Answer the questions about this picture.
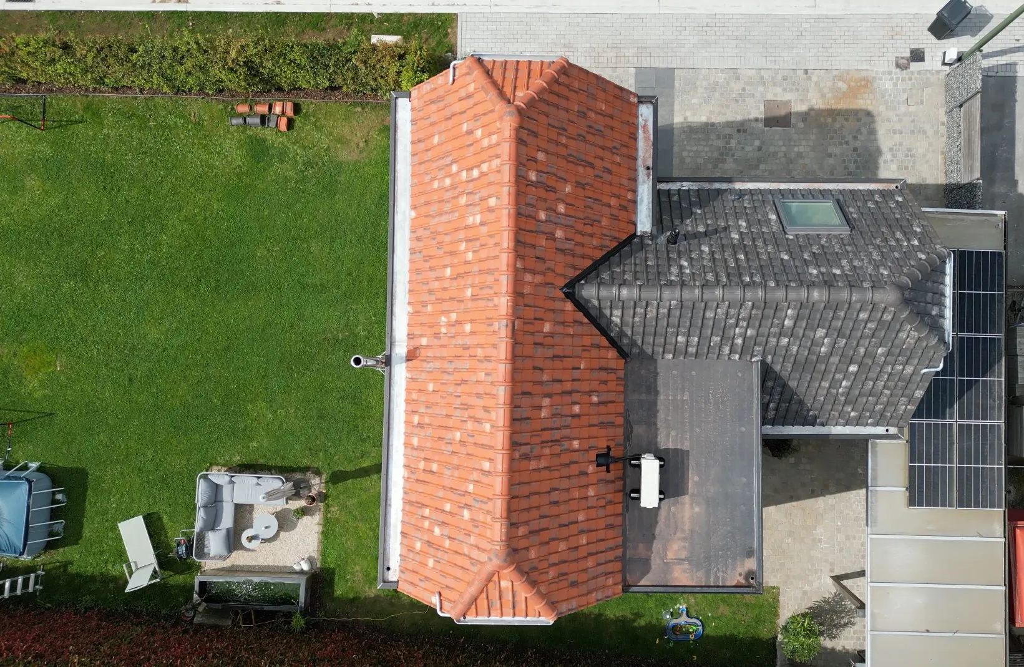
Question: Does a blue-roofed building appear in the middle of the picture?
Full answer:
No, there is no blue-roofed building in the middle of the picture.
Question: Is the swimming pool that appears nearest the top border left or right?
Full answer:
It is on the left.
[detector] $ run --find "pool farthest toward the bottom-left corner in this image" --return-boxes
[0,461,66,558]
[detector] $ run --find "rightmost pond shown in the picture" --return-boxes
[194,571,312,610]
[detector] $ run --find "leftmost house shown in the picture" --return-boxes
[351,48,656,628]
